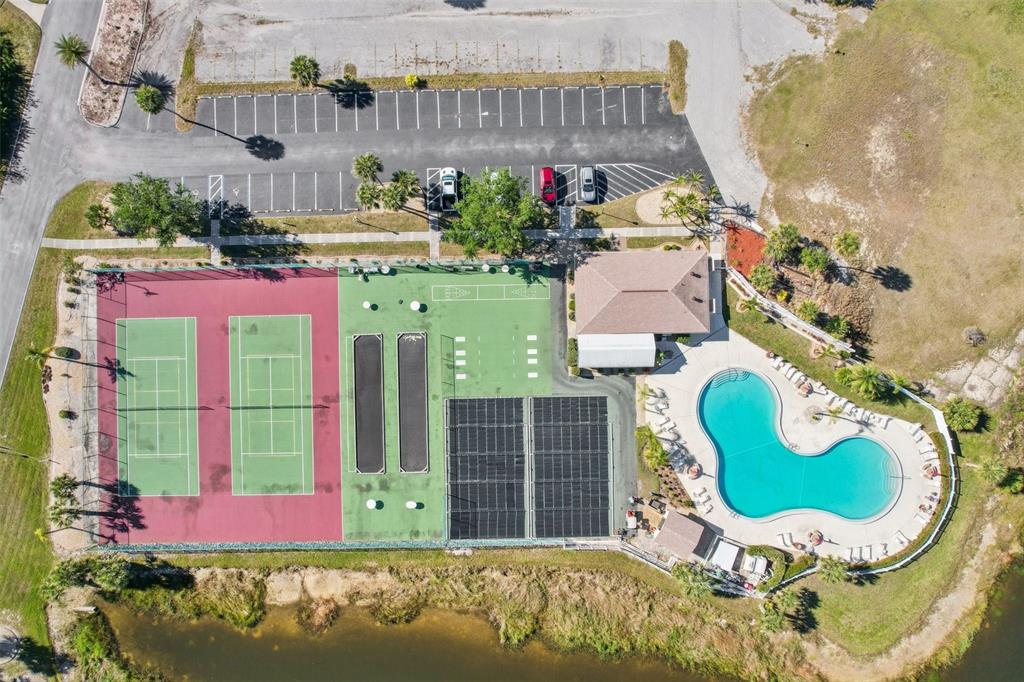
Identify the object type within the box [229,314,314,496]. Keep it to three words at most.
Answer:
tennis court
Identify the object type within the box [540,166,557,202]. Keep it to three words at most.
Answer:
car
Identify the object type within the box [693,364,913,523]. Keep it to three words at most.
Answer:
swimming pool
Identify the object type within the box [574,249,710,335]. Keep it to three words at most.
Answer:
building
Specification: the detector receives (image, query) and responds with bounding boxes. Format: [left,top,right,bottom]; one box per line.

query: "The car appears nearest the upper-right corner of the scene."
[580,165,597,201]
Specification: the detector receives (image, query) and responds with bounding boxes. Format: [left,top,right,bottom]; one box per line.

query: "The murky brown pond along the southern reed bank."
[132,619,676,682]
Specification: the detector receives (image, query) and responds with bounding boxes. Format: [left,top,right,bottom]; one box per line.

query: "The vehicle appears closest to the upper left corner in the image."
[440,167,458,211]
